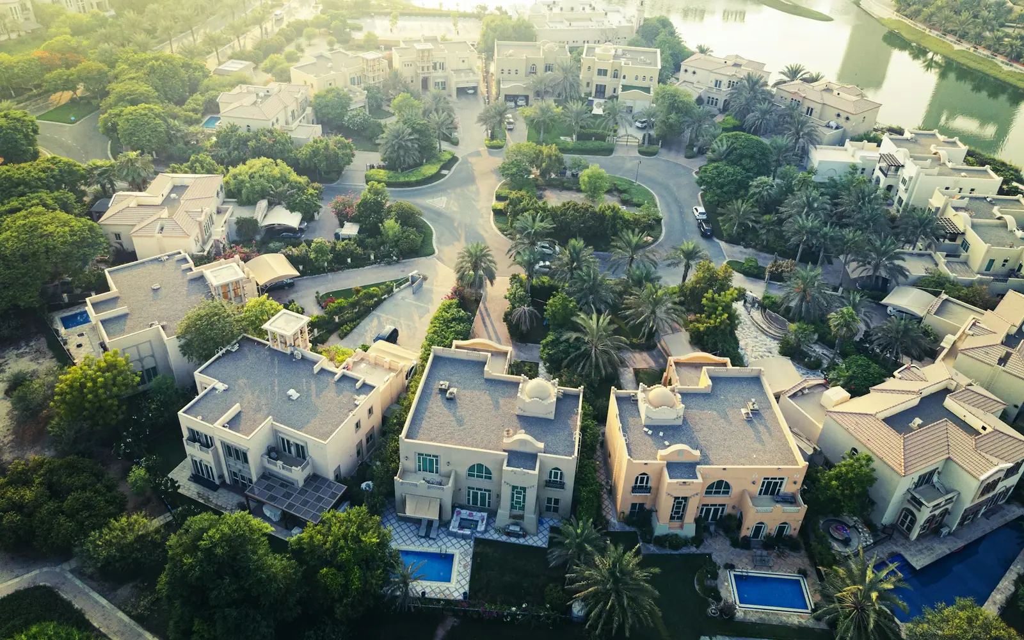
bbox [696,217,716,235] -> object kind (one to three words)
car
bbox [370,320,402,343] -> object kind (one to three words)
car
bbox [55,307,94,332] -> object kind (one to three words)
swimming pool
